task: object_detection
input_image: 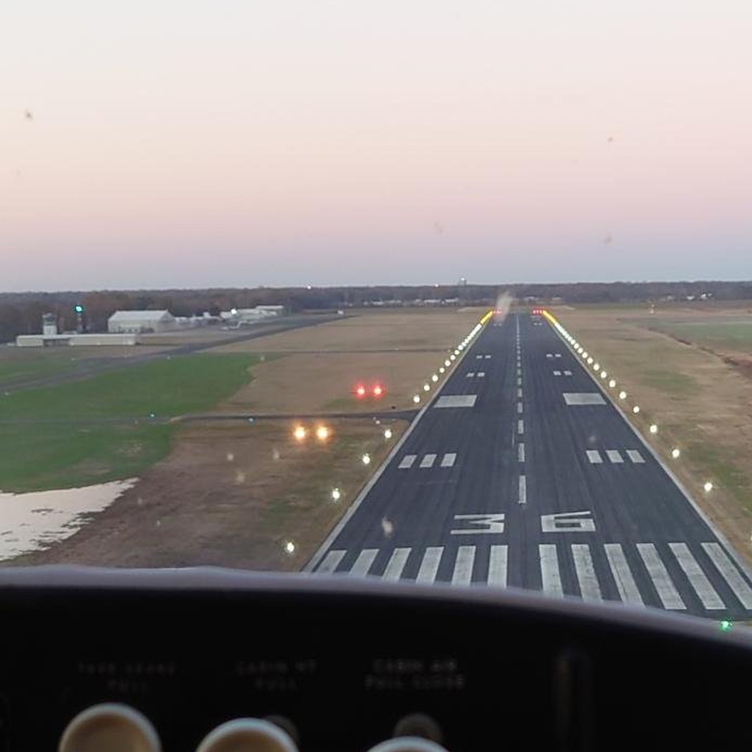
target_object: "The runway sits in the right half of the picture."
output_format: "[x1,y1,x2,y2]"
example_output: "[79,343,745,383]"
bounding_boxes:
[296,311,752,623]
